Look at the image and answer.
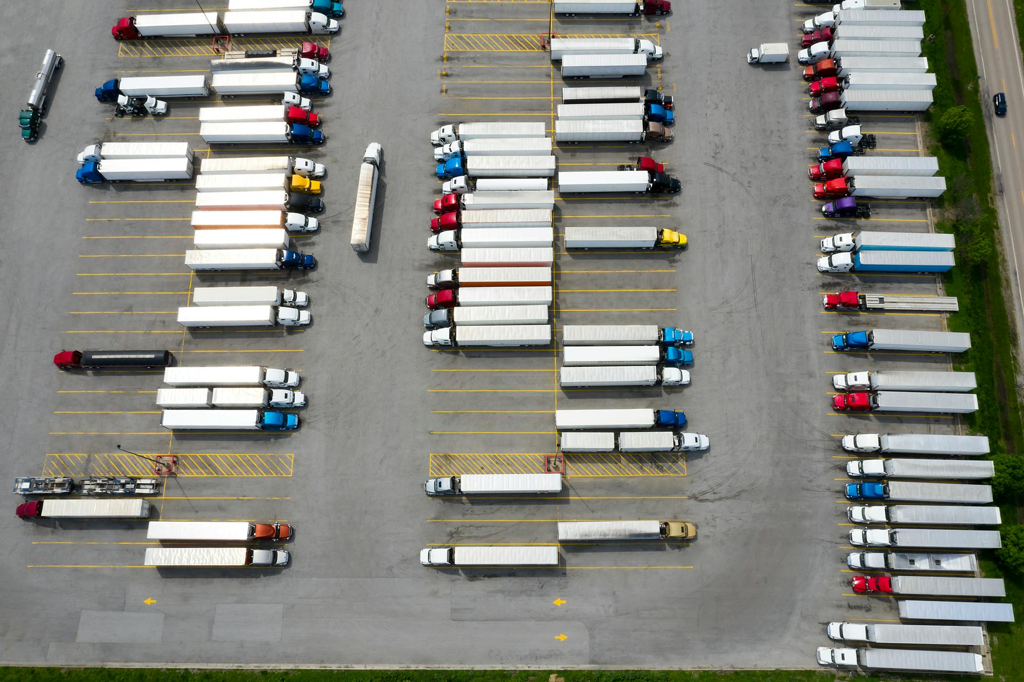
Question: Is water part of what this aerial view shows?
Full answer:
No, water can't be seen anywhere here.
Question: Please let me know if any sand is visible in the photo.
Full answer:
No, there's no sand in this view.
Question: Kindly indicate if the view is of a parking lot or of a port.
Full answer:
This image shows a parking lot.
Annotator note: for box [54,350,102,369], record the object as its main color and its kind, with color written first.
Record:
red vehicle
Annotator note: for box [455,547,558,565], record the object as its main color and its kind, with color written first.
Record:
white trailer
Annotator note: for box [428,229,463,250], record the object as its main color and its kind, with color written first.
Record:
white truck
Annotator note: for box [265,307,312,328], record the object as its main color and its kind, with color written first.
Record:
white truck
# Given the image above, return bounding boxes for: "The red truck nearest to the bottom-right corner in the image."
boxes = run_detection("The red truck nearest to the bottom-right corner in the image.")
[850,574,895,595]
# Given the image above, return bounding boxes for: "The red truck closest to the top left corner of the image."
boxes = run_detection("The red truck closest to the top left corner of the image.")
[112,17,155,41]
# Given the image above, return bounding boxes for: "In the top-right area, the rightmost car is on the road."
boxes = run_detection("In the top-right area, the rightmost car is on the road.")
[995,92,1010,114]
